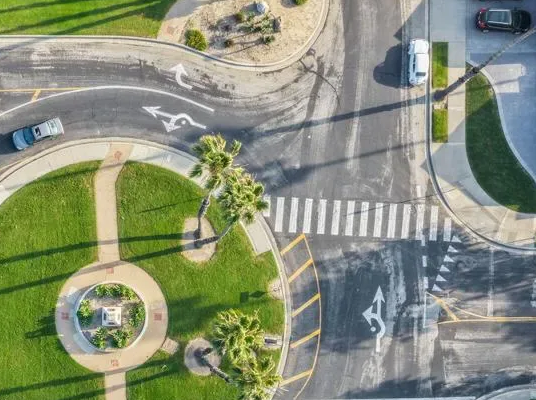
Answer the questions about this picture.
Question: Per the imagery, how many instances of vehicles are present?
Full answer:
The picture shows 3 vehicles.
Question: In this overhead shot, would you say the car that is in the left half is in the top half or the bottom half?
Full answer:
The top half of the photo is where the car that is in the left half is.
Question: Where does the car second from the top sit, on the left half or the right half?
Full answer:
The car second from the top appears in the right half of the scene.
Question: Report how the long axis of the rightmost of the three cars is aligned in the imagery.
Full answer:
The rightmost of the three cars runs horizontally in the image.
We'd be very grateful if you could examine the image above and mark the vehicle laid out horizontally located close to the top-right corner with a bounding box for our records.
[477,4,531,30]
